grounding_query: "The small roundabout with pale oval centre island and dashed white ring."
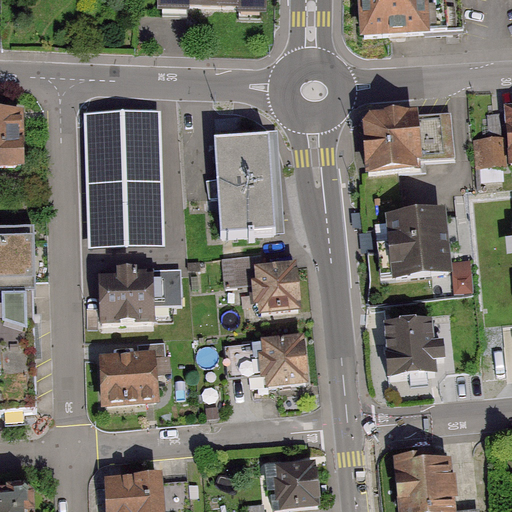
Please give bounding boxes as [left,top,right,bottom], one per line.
[268,47,358,134]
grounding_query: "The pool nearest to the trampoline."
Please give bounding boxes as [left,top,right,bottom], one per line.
[196,346,219,370]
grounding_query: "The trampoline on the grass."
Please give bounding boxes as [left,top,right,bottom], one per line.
[220,310,240,330]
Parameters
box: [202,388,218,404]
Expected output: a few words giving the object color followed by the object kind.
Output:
white umbrella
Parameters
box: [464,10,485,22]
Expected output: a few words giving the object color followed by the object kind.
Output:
white vehicle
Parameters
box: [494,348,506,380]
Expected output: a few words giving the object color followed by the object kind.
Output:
white vehicle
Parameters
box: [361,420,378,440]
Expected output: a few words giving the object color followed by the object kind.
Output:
white work vehicle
